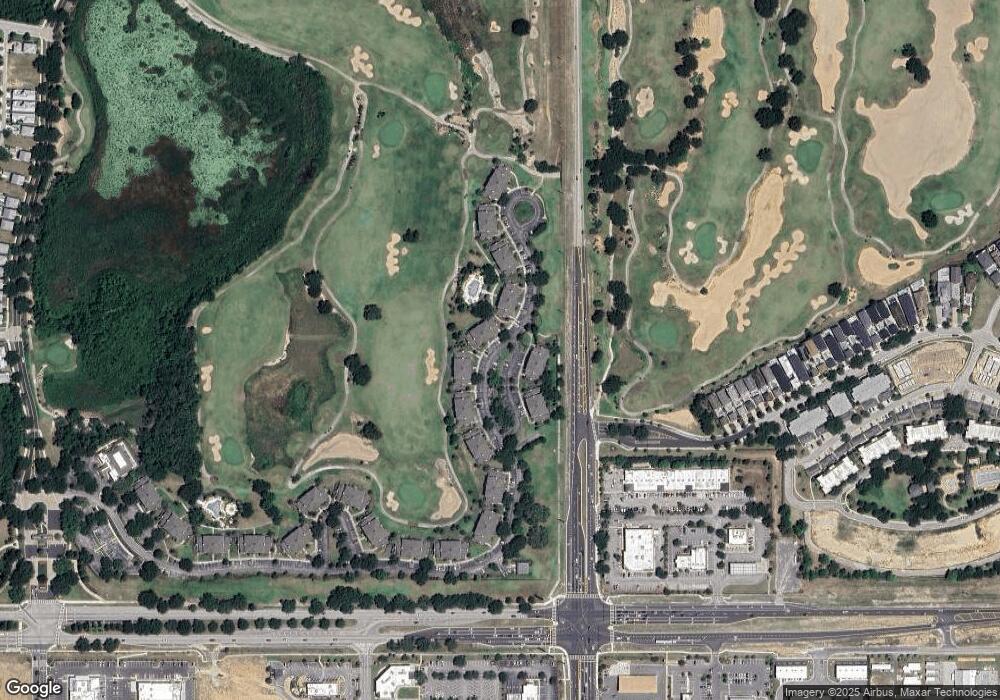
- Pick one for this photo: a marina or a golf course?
golf course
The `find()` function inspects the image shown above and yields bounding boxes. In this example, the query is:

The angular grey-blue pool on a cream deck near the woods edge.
[198,495,226,523]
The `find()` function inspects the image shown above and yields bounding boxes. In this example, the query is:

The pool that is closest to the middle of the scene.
[462,271,484,305]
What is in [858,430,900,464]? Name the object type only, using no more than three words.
building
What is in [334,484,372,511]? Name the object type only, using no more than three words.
building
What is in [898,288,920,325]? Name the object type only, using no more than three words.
house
